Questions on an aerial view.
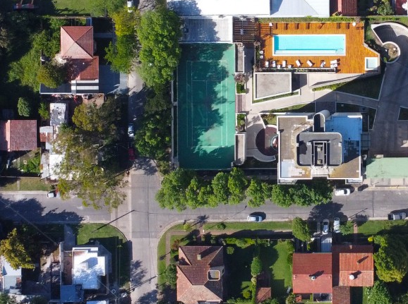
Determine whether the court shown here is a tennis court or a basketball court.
tennis court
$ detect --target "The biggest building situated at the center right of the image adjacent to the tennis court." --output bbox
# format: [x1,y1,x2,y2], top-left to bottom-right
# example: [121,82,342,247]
[277,111,370,184]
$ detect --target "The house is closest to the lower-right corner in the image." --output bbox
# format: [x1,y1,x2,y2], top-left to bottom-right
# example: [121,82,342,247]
[332,243,374,304]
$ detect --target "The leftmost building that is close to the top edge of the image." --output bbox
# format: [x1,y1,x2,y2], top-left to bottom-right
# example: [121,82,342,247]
[40,15,101,93]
